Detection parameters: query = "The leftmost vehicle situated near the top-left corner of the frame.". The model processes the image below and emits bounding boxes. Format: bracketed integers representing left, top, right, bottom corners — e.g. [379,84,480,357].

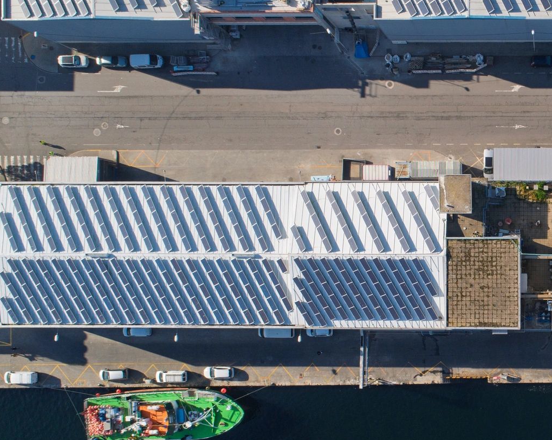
[61,54,93,70]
